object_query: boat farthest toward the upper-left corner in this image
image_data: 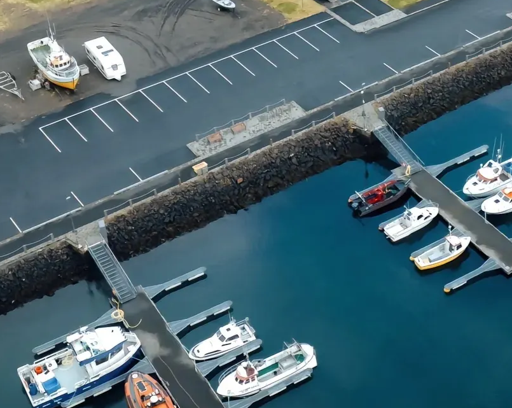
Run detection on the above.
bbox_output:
[28,18,78,91]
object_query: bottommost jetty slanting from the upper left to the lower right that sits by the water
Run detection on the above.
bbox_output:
[115,287,228,408]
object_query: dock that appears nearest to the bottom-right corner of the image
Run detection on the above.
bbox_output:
[443,258,501,295]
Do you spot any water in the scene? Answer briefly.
Yes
